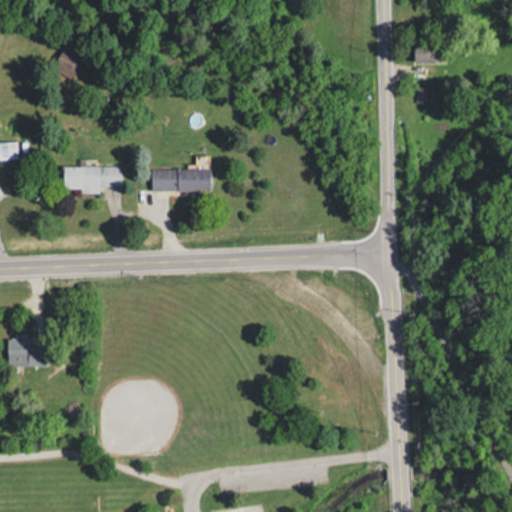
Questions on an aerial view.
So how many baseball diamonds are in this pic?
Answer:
one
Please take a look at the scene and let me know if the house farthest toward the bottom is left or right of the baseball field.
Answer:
on the left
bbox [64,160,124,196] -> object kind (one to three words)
house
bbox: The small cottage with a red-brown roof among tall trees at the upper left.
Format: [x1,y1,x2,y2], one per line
[56,52,80,79]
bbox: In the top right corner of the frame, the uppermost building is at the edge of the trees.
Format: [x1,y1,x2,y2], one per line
[414,46,447,66]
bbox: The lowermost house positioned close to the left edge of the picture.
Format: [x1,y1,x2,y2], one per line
[8,336,49,374]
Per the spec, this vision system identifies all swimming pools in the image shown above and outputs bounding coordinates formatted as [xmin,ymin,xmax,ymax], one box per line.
[190,113,208,128]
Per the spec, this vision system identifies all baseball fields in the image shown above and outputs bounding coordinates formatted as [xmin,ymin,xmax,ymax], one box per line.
[98,294,260,464]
